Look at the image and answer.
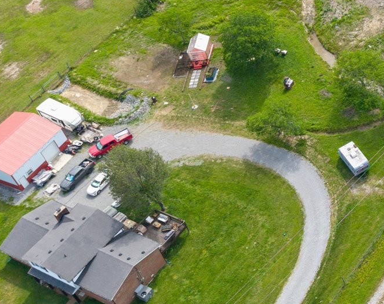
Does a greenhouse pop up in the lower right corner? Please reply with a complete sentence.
No, no greenhouse appears in the lower right corner.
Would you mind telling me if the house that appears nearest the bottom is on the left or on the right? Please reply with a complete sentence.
The house that appears nearest the bottom appears in the left half of the scene.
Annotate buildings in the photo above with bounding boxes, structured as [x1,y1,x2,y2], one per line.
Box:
[0,111,70,191]
[0,199,166,304]
[186,32,216,66]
